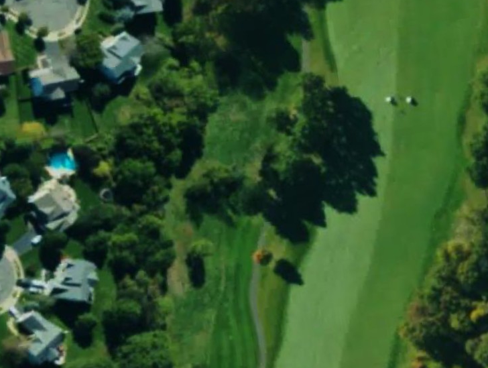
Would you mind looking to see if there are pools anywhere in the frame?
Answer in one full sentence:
Yes, the photo shows a pool.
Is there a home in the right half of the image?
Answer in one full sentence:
No, looking in the right half of the image, there is no home.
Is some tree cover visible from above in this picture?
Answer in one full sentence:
Yes, some tree cover is visible.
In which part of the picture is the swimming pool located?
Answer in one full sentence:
The swimming pool sits in the left section of the image.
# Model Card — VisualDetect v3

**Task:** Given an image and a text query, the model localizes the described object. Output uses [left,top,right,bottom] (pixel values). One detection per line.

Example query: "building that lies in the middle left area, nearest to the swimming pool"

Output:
[26,176,81,228]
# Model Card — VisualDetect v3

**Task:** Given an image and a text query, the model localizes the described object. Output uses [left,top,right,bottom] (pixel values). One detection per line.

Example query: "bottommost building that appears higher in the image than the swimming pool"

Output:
[22,56,82,104]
